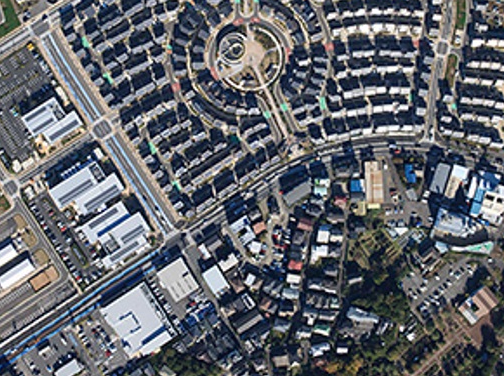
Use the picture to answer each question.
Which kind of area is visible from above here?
residential area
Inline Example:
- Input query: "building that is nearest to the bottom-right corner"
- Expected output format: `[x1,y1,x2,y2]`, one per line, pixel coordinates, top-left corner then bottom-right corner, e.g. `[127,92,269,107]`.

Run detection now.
[458,283,500,326]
